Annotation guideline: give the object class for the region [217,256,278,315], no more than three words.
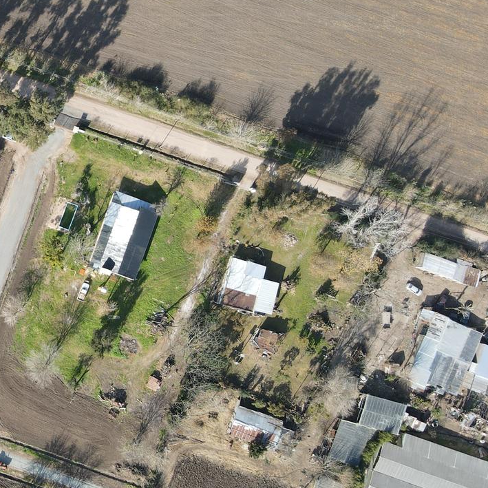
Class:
house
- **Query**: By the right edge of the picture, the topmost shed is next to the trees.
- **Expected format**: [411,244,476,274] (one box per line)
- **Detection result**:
[417,254,480,287]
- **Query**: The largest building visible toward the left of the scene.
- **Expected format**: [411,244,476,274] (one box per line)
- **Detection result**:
[89,191,159,282]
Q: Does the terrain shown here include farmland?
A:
Yes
